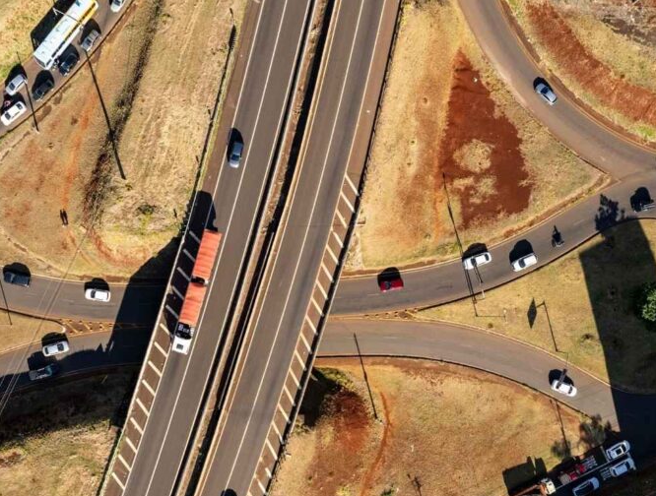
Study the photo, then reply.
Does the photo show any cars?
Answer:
Yes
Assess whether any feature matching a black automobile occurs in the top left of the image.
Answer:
Yes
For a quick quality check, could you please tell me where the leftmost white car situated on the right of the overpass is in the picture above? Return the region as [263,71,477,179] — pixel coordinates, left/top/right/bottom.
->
[463,252,489,269]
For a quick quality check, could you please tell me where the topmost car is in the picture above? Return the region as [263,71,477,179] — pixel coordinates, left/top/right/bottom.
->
[108,0,129,16]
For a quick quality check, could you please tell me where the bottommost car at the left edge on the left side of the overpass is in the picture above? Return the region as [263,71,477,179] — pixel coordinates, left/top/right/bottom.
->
[28,363,56,380]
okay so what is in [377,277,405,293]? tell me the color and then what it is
red car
